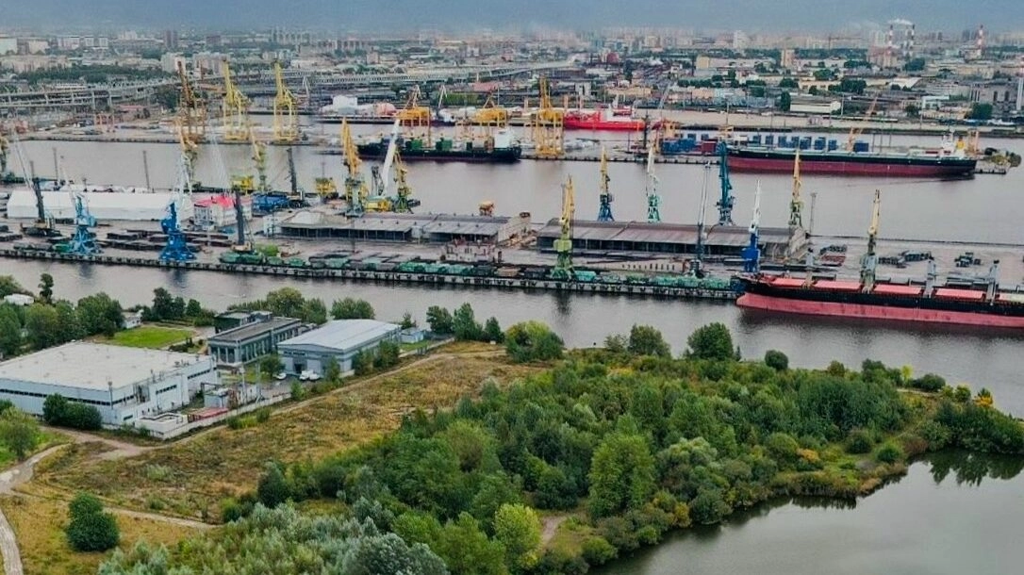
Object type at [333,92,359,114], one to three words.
building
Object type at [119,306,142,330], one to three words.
house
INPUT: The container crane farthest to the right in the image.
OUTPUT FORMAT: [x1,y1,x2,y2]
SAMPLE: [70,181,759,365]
[963,128,989,162]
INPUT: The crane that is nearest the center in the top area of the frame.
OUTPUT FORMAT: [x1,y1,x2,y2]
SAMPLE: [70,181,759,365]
[550,174,577,279]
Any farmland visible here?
No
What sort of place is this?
port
